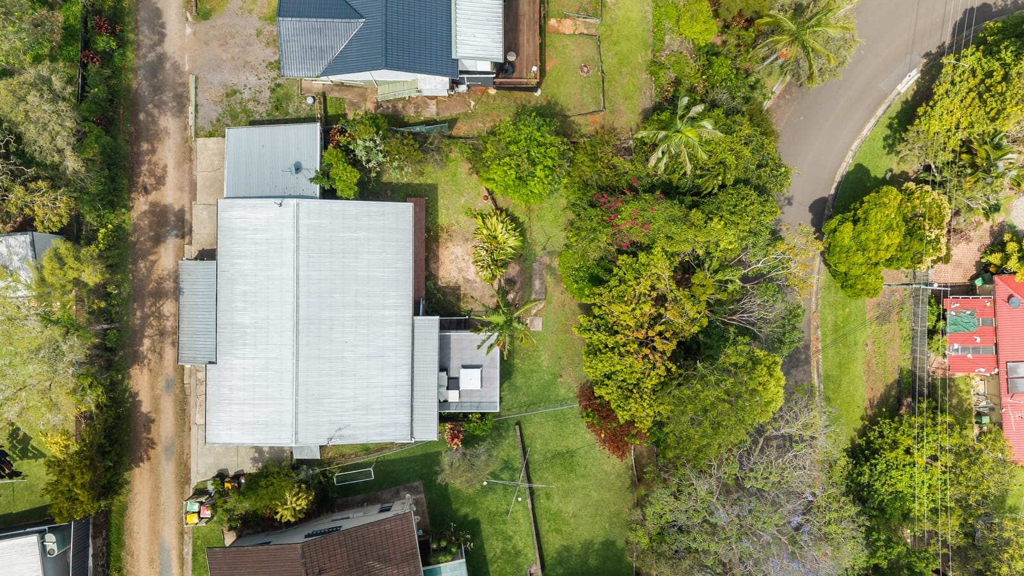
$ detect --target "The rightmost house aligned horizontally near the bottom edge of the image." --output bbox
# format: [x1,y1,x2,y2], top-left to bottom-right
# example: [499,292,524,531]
[204,487,425,576]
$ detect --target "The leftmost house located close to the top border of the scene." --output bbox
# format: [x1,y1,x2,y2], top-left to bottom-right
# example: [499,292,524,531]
[277,0,457,96]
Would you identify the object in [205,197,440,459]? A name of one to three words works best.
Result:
house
